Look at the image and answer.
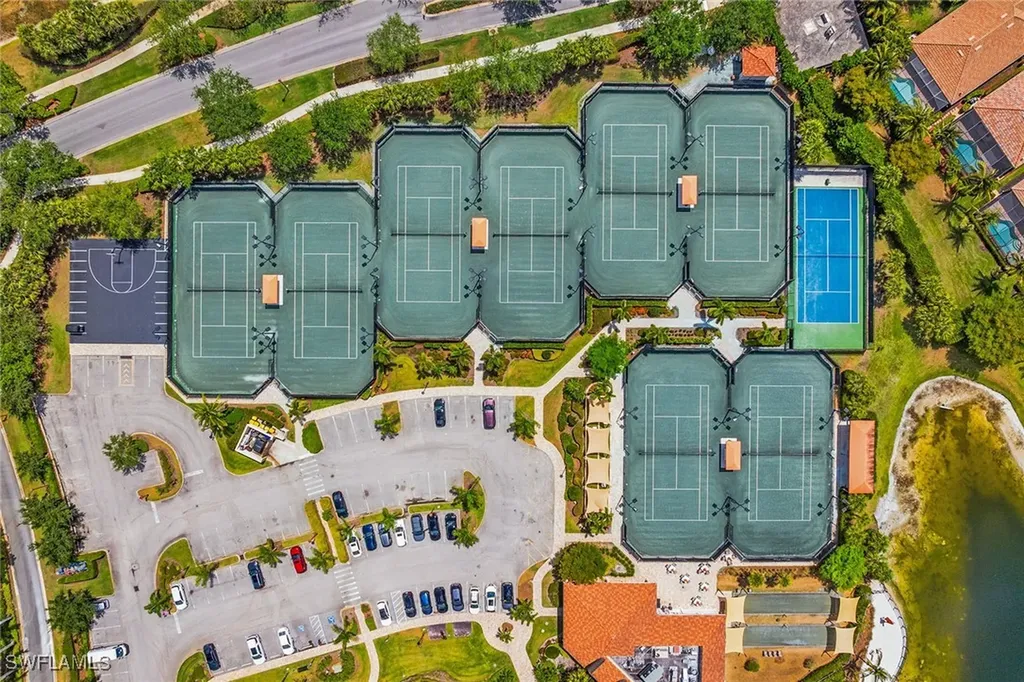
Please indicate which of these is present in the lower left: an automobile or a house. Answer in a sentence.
There is an automobile in the lower left.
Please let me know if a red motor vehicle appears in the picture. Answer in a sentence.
Yes, there's a red motor vehicle here.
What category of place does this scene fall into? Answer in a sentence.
This looks like a sports ground.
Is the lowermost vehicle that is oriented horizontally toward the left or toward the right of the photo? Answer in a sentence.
The lowermost vehicle that is oriented horizontally appears in the left half of the scene.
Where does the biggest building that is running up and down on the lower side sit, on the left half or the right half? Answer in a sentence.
The biggest building that is running up and down on the lower side is on the right side of the image.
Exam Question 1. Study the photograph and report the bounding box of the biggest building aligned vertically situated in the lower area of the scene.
[841,418,874,494]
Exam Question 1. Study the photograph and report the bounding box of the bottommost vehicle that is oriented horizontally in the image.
[83,643,130,664]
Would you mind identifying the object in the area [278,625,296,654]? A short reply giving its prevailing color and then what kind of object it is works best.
white car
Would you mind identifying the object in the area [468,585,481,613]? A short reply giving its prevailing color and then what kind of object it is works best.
white vehicle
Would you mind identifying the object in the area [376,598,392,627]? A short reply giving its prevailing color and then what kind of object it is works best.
white car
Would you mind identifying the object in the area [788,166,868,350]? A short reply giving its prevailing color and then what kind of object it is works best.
blue tennis court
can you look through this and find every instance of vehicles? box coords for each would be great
[362,523,378,551]
[444,512,457,540]
[345,532,362,559]
[427,512,441,541]
[278,625,296,654]
[172,582,189,611]
[246,634,266,664]
[483,399,496,428]
[332,489,350,518]
[402,590,417,618]
[83,643,130,664]
[468,585,481,613]
[419,587,433,615]
[291,544,307,573]
[450,582,464,611]
[501,581,513,610]
[203,641,222,672]
[248,560,266,589]
[393,517,408,546]
[434,585,448,614]
[377,519,393,548]
[434,399,446,426]
[376,598,392,627]
[411,512,425,541]
[484,584,497,613]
